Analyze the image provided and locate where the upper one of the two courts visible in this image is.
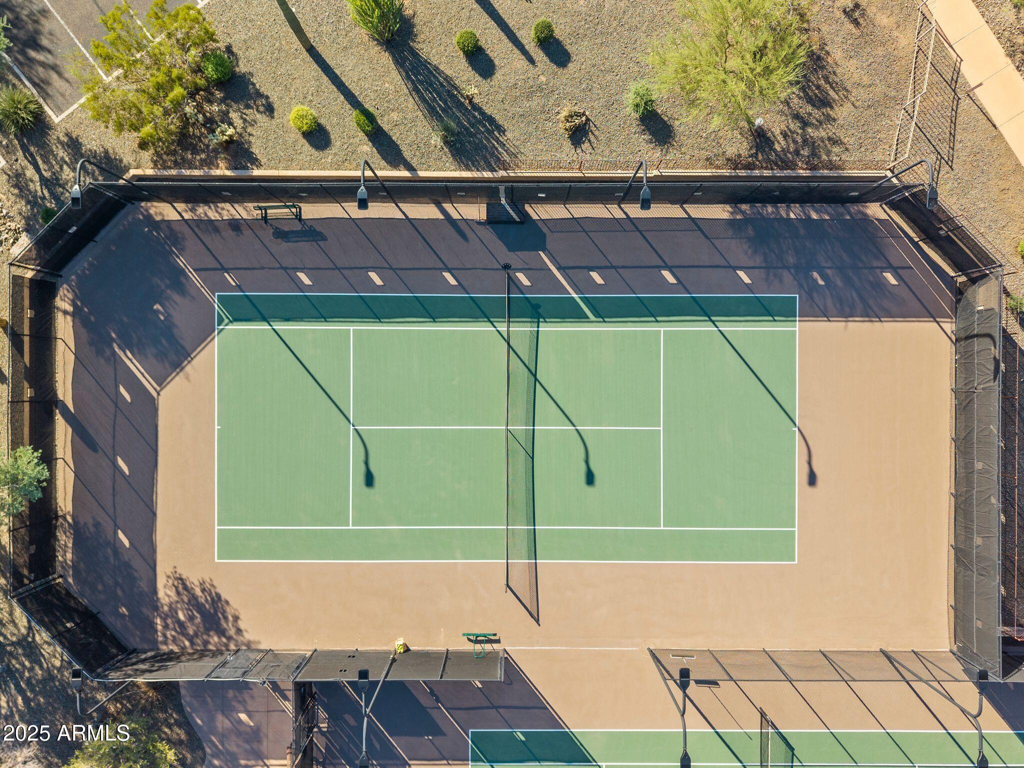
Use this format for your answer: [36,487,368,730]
[56,199,957,652]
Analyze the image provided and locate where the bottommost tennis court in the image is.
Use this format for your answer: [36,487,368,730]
[313,649,1024,768]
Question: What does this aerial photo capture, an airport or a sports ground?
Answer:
sports ground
